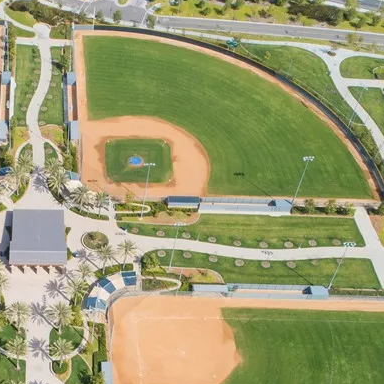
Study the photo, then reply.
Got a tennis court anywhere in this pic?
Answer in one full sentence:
No, the photo shows no tennis court.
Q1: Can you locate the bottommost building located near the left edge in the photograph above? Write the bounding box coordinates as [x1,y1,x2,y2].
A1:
[9,210,67,278]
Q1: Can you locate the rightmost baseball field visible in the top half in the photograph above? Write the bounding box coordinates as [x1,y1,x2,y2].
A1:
[73,30,384,202]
